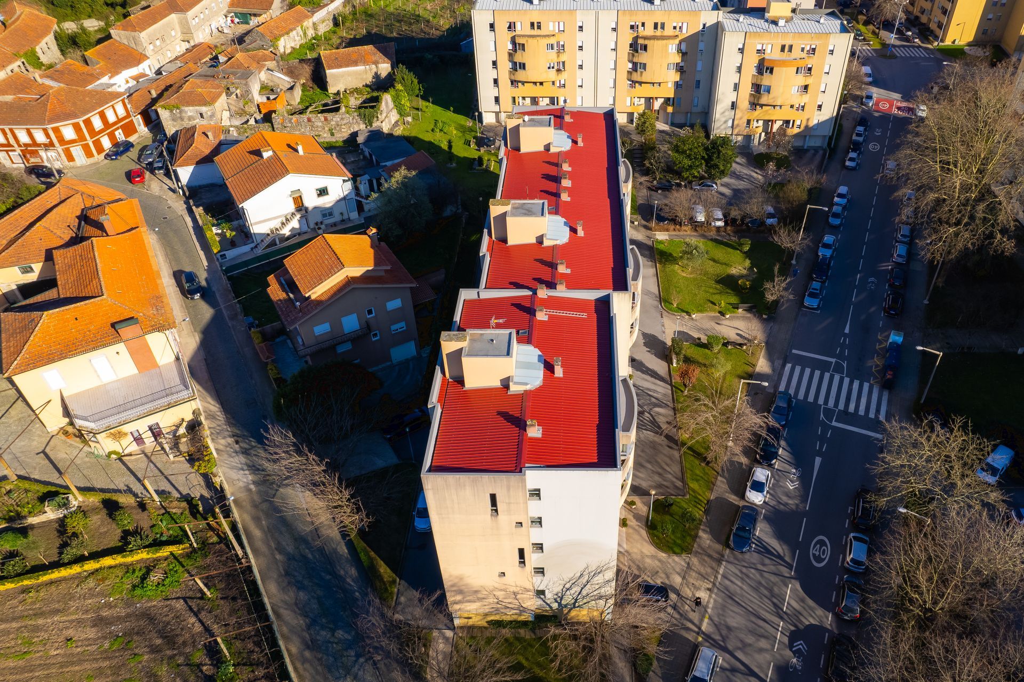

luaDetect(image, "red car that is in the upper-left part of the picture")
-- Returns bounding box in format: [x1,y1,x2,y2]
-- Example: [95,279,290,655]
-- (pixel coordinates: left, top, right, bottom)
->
[126,171,151,184]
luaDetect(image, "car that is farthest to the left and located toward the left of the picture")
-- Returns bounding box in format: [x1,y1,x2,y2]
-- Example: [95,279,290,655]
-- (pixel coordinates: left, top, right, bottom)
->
[30,166,60,179]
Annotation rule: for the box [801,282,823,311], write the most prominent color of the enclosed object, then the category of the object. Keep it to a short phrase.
blue car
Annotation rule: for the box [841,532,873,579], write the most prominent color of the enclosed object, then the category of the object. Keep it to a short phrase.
blue car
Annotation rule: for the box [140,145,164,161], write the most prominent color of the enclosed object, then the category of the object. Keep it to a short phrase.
gray car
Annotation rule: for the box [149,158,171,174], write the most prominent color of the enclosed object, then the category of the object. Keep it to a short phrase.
black car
